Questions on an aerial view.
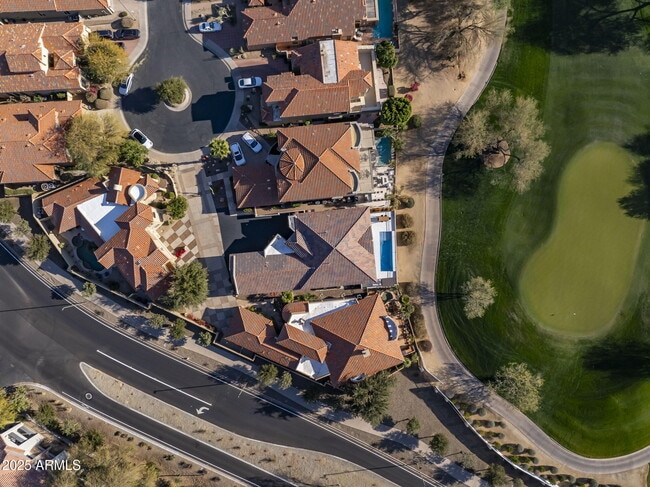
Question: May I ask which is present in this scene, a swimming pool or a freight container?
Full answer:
This aerial view contains a swimming pool.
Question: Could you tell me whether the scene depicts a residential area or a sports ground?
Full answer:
The area seen from above is a residential area.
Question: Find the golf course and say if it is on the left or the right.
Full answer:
The golf course is on the right side of the image.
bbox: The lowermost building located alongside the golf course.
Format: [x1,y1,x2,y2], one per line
[223,293,405,384]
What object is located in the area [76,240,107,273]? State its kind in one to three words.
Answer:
swimming pool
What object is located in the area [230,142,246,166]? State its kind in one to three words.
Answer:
car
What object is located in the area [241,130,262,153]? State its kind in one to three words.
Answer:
car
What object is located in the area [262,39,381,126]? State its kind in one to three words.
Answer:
house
